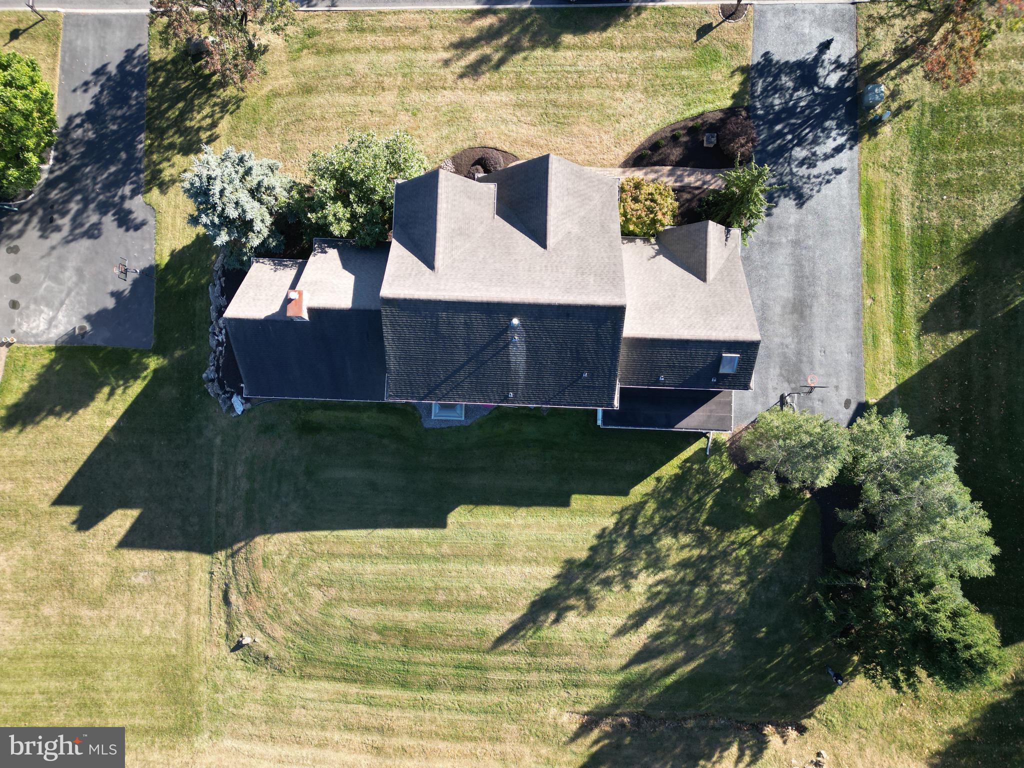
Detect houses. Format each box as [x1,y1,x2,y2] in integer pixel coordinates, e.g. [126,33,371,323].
[226,155,765,454]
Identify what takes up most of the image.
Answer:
grass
